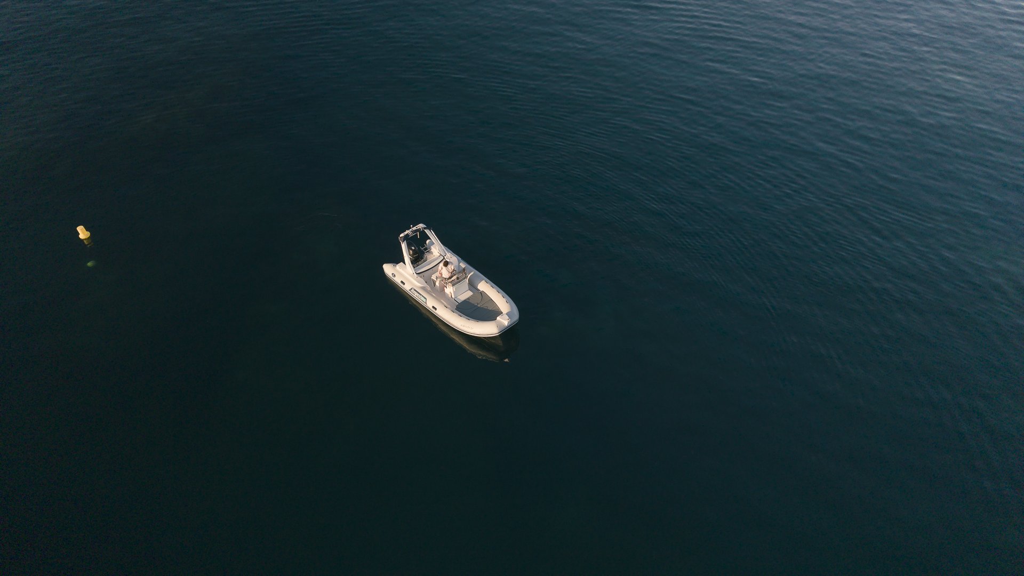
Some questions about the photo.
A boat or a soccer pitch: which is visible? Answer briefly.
boat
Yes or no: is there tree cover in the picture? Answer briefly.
No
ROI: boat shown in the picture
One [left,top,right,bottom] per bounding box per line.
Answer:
[382,223,519,336]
